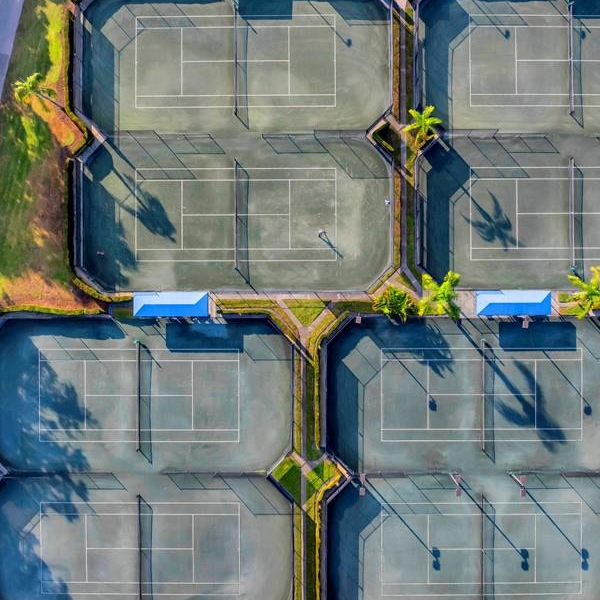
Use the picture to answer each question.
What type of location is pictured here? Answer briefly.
sports ground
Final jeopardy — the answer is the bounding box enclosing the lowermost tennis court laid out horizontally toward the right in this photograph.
[326,473,600,600]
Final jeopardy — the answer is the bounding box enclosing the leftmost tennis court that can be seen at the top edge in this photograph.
[82,0,390,136]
